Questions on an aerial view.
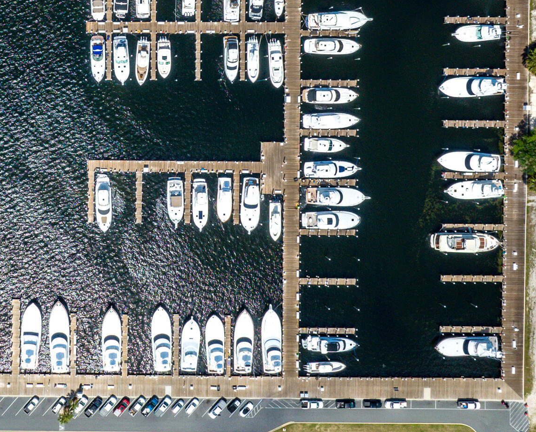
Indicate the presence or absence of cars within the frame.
Yes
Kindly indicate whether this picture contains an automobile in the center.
No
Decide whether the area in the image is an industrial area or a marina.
marina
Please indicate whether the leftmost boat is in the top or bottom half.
bottom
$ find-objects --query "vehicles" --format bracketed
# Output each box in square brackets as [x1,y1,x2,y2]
[225,394,241,416]
[456,400,480,411]
[85,395,103,418]
[50,394,67,416]
[112,395,130,418]
[208,397,226,419]
[384,400,407,409]
[153,393,171,418]
[128,394,146,417]
[361,400,383,409]
[184,397,200,415]
[335,400,355,410]
[23,394,40,416]
[98,394,118,418]
[139,394,159,418]
[72,394,89,418]
[170,398,185,415]
[239,401,253,417]
[301,399,323,410]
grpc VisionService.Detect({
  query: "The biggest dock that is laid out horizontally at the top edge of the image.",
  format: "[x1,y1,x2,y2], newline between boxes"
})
[85,21,287,35]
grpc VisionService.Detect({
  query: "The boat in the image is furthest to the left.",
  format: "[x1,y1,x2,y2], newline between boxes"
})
[21,302,42,369]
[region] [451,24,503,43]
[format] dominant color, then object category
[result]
white boat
